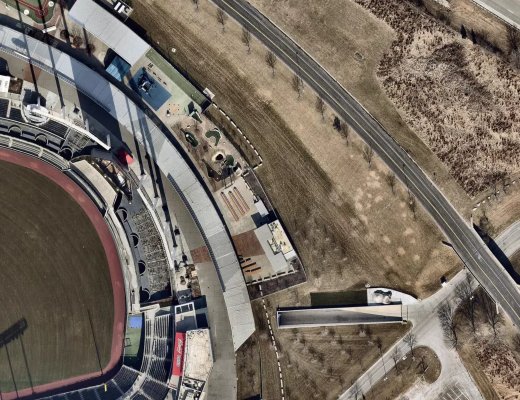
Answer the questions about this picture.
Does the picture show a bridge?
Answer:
Yes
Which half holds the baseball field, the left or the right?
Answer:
left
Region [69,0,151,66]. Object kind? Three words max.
building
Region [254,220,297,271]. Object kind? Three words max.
building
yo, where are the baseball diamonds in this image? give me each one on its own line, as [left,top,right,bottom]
[0,148,127,400]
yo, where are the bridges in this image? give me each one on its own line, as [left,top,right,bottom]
[441,214,512,315]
